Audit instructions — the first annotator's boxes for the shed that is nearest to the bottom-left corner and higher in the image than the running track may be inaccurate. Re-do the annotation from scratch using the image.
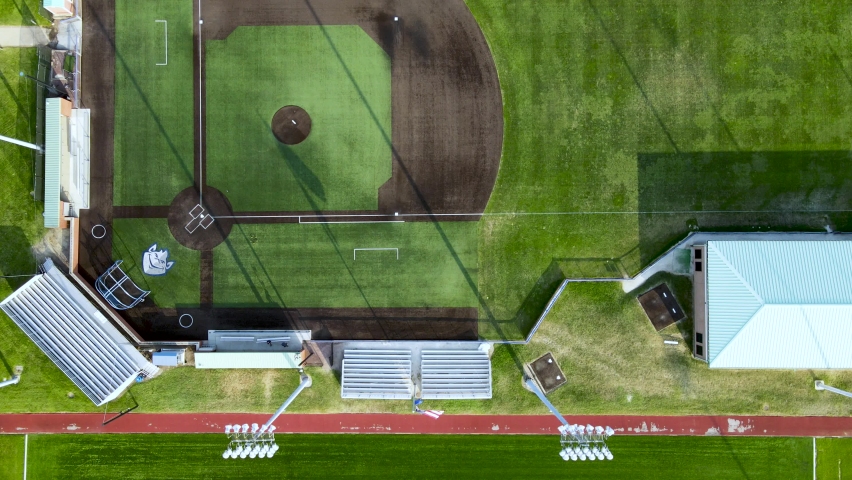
[152,349,182,365]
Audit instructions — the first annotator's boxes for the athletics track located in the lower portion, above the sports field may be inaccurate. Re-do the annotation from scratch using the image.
[0,414,852,436]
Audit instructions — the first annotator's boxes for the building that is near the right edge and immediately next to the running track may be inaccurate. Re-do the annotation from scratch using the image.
[692,240,852,369]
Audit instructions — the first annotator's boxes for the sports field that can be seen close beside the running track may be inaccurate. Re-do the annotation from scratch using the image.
[26,434,814,480]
